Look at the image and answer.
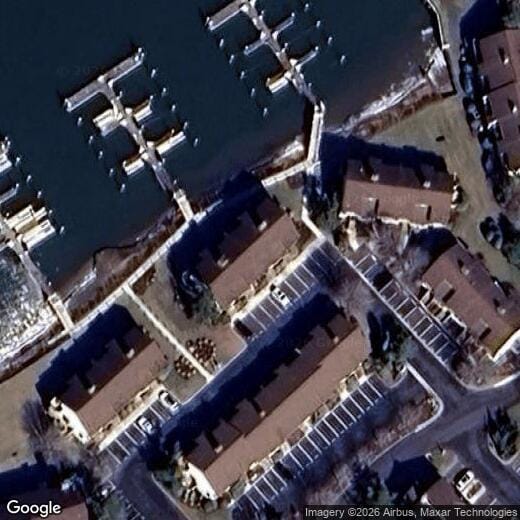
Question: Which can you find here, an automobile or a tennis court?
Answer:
automobile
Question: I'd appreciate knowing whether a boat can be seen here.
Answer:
Yes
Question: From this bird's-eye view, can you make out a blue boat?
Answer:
No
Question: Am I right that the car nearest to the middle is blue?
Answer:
No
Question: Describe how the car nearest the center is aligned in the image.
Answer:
at an angle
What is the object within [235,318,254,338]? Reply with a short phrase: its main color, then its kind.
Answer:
black car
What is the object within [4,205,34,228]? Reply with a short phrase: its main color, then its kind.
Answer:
white boat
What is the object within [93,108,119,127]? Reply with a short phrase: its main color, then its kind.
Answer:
white boat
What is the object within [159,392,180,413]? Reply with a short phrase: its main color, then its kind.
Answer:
white car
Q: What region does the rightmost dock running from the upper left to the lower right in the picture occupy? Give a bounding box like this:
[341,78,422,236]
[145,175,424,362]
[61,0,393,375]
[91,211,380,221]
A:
[208,0,318,110]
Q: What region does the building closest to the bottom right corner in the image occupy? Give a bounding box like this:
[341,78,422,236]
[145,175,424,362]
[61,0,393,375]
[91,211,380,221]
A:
[413,474,469,520]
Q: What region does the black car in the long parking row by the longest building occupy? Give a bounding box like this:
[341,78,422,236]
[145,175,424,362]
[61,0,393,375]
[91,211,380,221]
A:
[275,461,292,479]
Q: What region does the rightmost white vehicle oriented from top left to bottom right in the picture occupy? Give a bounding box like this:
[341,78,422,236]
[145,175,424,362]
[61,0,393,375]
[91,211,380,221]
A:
[272,285,292,306]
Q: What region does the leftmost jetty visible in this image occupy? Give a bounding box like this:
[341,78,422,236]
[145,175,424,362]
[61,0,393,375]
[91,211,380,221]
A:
[0,191,54,301]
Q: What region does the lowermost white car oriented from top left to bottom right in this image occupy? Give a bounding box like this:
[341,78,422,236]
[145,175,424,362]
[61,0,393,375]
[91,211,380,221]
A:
[139,416,158,436]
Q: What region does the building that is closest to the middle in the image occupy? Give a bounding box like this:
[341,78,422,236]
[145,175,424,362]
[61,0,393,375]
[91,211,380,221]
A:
[196,205,305,319]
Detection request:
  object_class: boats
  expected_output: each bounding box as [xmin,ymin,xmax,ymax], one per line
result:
[131,102,151,117]
[124,154,144,169]
[32,206,49,220]
[4,205,34,228]
[20,222,54,248]
[421,29,433,37]
[0,156,12,172]
[268,73,287,87]
[93,108,119,127]
[153,136,177,152]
